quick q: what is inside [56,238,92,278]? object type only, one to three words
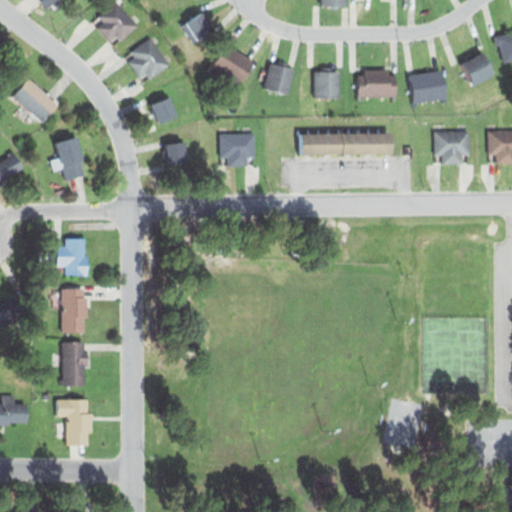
house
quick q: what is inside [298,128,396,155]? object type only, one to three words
building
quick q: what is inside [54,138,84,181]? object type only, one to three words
house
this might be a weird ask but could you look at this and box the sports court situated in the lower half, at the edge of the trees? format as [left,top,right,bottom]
[422,318,487,394]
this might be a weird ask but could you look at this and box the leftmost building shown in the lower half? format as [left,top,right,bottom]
[0,395,31,424]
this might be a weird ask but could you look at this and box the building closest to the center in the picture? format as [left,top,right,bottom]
[217,134,255,167]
